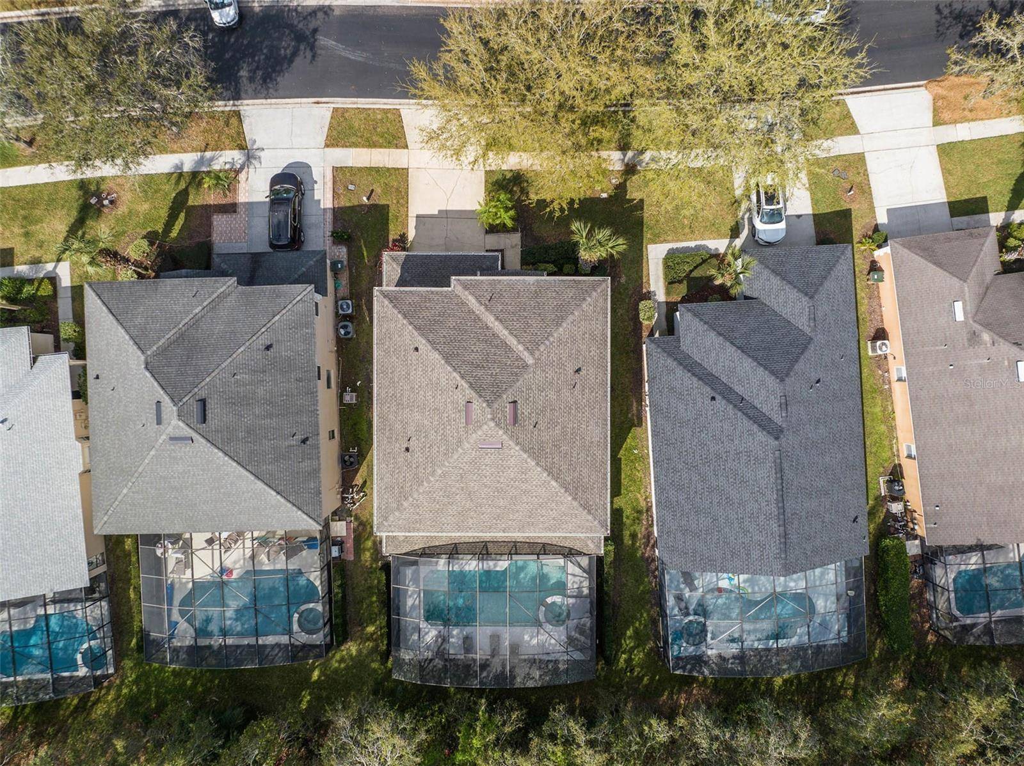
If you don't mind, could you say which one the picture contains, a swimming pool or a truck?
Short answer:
swimming pool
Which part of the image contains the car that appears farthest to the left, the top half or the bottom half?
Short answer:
top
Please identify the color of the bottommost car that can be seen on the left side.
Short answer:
black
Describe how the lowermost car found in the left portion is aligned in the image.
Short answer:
from top to bottom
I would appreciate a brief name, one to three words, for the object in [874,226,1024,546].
house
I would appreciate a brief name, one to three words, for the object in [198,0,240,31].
car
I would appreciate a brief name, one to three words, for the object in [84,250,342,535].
house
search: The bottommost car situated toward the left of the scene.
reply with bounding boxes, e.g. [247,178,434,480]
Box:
[263,167,305,248]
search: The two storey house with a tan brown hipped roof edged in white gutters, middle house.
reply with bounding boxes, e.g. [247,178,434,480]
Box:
[373,251,612,557]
